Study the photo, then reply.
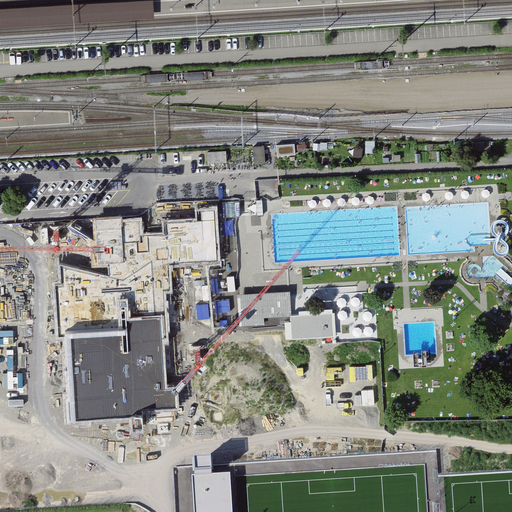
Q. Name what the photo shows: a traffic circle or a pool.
pool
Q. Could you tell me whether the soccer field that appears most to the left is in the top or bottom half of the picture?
bottom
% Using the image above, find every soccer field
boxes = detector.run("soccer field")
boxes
[246,464,426,512]
[444,473,512,512]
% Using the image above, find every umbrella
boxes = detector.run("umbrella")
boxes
[308,198,317,208]
[351,196,360,206]
[444,190,454,200]
[422,192,431,202]
[322,198,332,208]
[362,326,374,336]
[460,190,470,200]
[337,310,348,320]
[350,296,361,307]
[362,310,373,322]
[480,188,490,198]
[352,326,362,338]
[337,198,346,206]
[365,196,374,205]
[336,296,348,308]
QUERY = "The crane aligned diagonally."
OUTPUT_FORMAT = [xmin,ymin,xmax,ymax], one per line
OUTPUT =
[172,248,302,394]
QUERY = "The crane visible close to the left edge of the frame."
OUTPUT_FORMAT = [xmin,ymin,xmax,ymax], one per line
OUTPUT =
[0,226,114,256]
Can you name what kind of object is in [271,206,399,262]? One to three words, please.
swimming pool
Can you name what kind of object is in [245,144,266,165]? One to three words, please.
shed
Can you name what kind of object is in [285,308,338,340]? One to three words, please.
building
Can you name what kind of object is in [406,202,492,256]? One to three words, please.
swimming pool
